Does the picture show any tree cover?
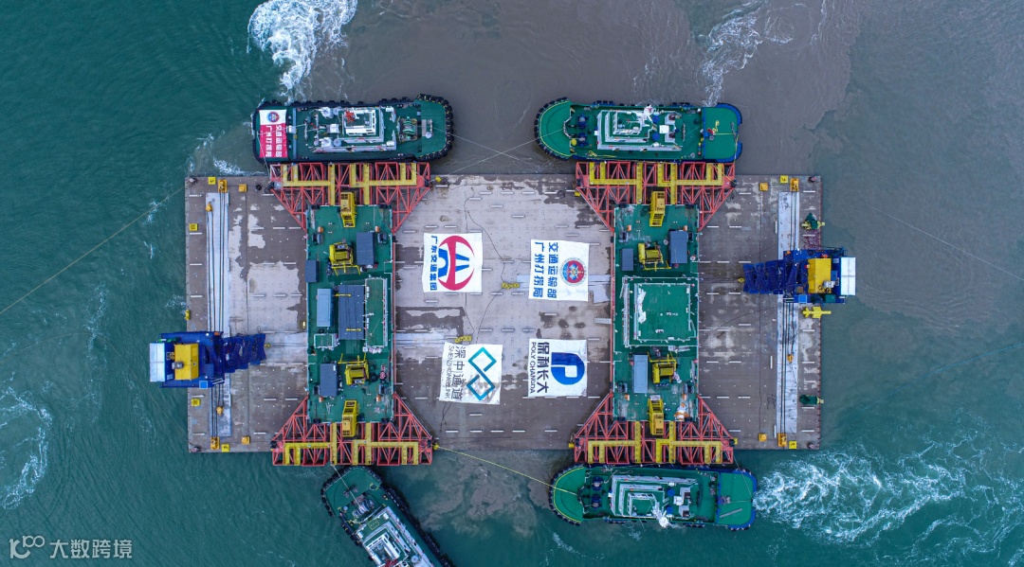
No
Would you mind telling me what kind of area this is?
port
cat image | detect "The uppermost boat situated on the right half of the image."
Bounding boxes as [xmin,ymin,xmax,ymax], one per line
[535,93,744,164]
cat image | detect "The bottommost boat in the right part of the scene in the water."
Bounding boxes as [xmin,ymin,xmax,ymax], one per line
[549,460,758,529]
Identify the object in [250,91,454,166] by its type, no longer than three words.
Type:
boat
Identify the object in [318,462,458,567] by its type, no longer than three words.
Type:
boat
